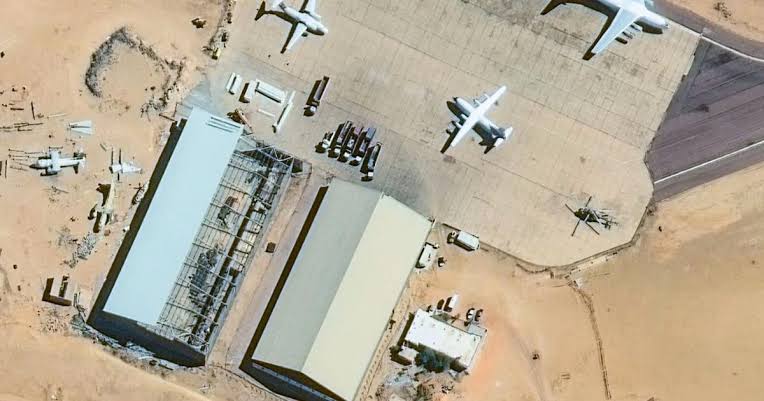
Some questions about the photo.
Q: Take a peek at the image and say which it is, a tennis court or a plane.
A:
plane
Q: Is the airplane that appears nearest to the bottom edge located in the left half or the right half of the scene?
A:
left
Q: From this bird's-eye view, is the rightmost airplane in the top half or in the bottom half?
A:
top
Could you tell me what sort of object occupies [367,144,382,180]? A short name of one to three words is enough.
vehicle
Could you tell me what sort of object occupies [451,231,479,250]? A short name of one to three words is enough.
vehicle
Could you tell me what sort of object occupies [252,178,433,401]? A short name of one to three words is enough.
hangar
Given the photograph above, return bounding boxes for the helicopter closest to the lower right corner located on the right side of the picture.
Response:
[575,193,626,229]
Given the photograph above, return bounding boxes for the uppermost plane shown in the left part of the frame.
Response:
[272,0,327,48]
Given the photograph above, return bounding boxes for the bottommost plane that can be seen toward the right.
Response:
[451,87,515,146]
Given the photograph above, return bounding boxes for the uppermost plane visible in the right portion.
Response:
[585,0,668,52]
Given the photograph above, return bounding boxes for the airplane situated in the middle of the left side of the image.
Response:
[34,148,89,175]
